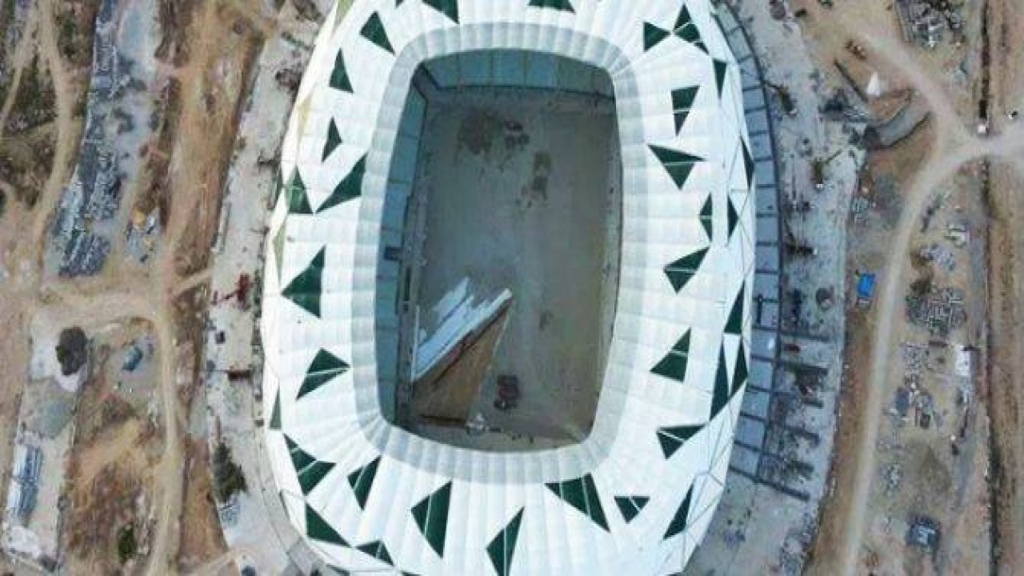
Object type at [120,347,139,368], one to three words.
vehicle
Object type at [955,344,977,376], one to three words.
shed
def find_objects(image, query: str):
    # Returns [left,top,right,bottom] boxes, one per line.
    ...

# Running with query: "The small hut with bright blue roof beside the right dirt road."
[857,272,879,296]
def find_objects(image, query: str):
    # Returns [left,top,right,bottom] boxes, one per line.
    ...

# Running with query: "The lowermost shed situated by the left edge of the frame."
[0,483,29,526]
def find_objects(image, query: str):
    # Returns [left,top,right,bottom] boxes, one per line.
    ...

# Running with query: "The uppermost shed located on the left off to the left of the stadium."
[6,444,39,486]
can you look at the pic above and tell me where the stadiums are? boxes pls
[261,0,756,576]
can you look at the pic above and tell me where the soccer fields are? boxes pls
[386,88,622,453]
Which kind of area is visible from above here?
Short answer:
sports ground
